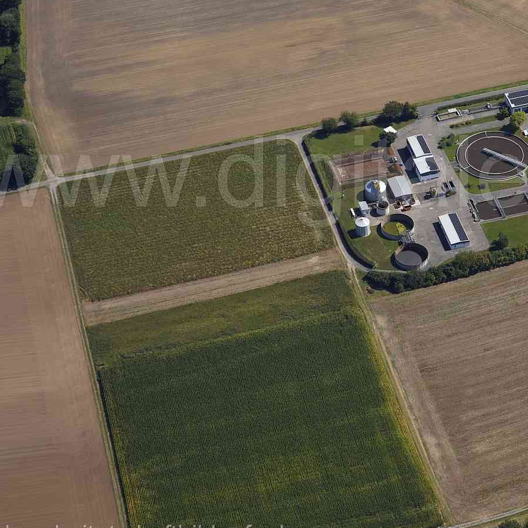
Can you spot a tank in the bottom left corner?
No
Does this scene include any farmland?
Yes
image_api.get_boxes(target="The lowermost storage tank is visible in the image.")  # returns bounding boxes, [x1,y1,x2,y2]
[394,242,428,271]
